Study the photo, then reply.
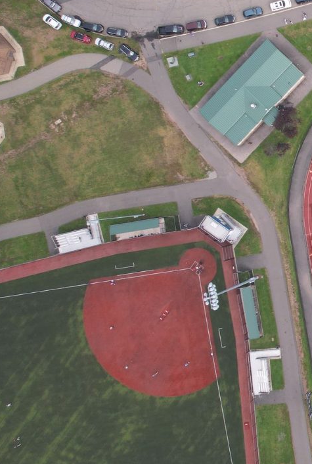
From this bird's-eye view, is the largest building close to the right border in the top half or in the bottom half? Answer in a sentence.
You can find the largest building close to the right border in the top half.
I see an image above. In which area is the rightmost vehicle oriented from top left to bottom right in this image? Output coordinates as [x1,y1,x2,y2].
[118,43,140,62]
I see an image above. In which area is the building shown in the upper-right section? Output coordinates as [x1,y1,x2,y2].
[198,39,305,146]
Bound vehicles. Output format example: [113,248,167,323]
[82,21,105,34]
[215,14,236,26]
[270,0,291,11]
[158,24,185,35]
[42,0,65,14]
[186,20,208,31]
[70,29,92,44]
[94,37,116,51]
[42,13,64,31]
[106,26,129,38]
[243,7,264,19]
[60,12,82,29]
[118,43,140,62]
